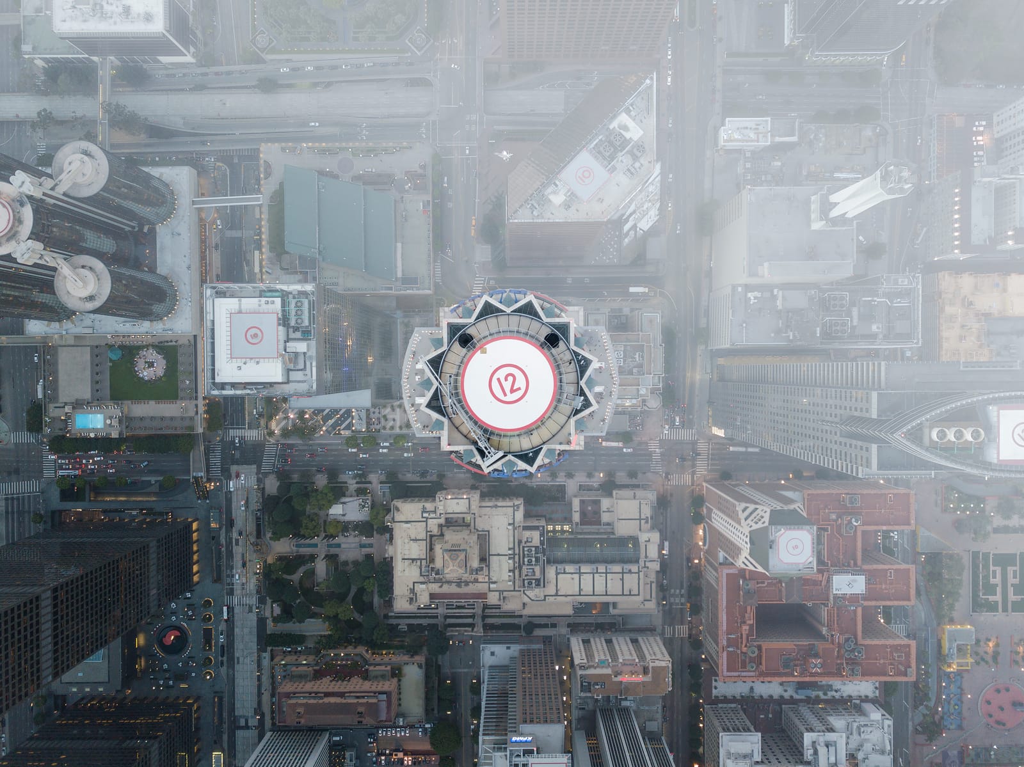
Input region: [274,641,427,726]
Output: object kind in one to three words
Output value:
building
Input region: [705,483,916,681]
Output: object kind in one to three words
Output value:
building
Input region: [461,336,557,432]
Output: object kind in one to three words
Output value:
helipad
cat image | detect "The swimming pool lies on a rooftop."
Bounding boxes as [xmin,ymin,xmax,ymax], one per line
[75,414,104,429]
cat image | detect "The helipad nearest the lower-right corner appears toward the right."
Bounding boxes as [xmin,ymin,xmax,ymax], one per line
[833,574,865,596]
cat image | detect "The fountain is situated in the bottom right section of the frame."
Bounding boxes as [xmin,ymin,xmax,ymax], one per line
[977,679,1024,730]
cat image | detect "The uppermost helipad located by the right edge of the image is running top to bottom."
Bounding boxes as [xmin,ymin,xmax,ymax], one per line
[996,405,1024,464]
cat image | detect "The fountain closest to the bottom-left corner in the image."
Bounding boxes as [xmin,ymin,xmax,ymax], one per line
[154,620,191,656]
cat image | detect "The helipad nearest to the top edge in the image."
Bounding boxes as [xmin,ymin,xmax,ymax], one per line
[558,149,611,204]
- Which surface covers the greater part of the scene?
buildings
